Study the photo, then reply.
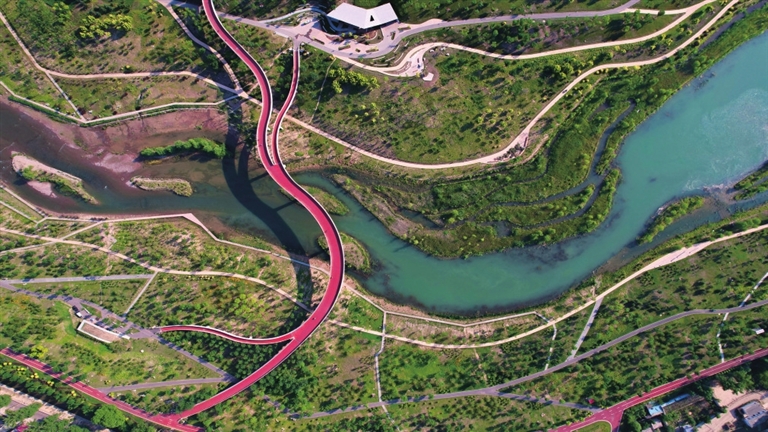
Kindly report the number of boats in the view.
0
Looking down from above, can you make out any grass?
Yes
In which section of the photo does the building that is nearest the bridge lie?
top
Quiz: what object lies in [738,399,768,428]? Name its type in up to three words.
house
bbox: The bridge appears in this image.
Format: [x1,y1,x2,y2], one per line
[149,0,345,413]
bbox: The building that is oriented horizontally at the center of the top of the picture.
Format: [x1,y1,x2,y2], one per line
[327,2,398,28]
